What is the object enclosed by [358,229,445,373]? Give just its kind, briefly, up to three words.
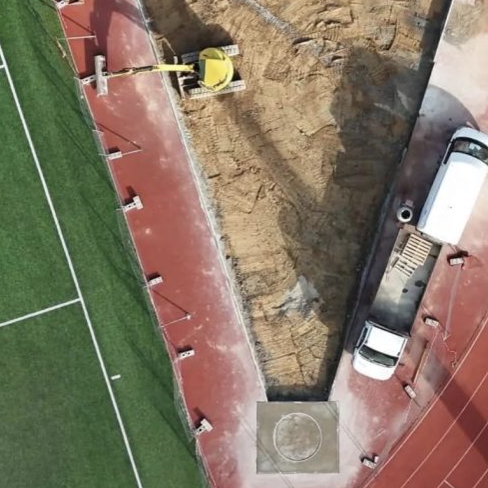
truck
